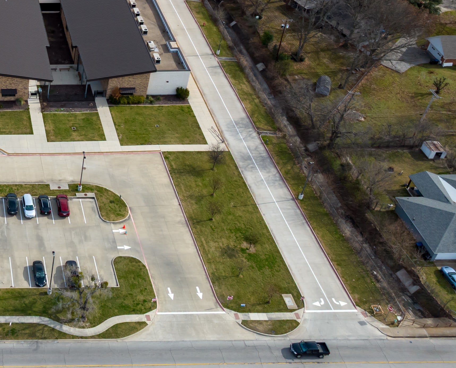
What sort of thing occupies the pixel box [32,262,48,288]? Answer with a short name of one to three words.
car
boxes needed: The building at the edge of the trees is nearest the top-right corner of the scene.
[422,34,456,68]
